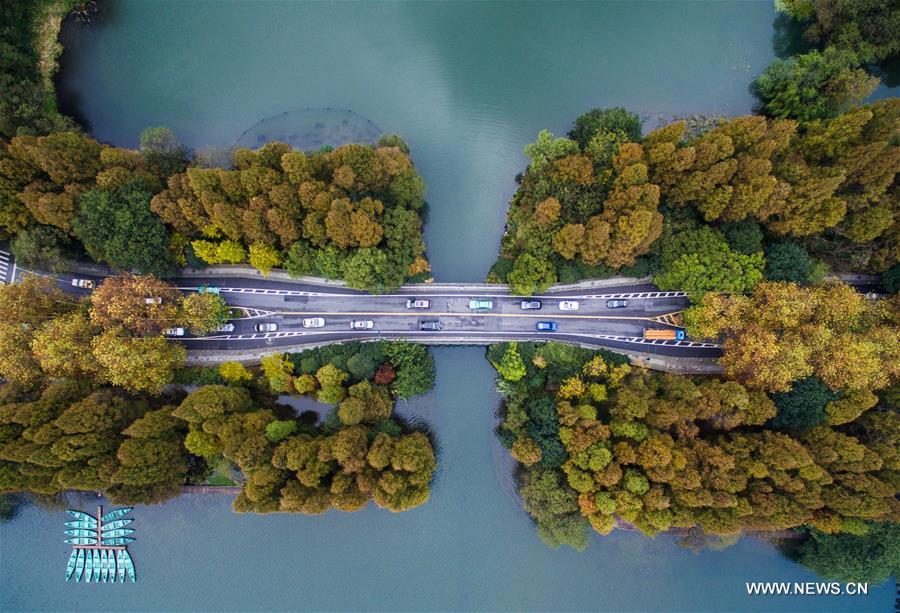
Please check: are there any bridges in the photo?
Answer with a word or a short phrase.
Yes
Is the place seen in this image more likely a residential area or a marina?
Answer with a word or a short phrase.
marina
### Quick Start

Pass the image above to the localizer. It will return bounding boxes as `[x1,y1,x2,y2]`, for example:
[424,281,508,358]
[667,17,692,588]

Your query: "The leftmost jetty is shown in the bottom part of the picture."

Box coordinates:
[72,506,127,551]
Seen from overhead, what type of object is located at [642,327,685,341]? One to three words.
vehicle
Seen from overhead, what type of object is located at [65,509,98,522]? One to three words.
boat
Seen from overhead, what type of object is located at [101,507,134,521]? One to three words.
boat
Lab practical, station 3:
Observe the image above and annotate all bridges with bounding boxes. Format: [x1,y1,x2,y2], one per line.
[403,281,533,347]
